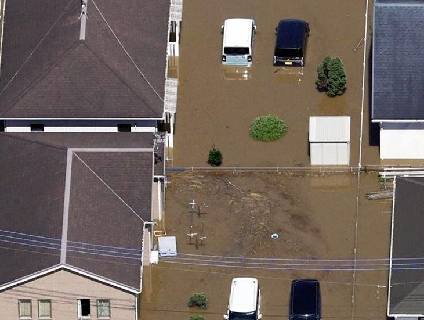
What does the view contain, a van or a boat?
van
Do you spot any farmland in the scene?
No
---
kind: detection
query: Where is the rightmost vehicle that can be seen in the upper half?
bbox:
[272,17,311,65]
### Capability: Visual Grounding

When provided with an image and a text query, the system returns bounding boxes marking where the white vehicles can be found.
[220,19,258,65]
[222,275,263,320]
